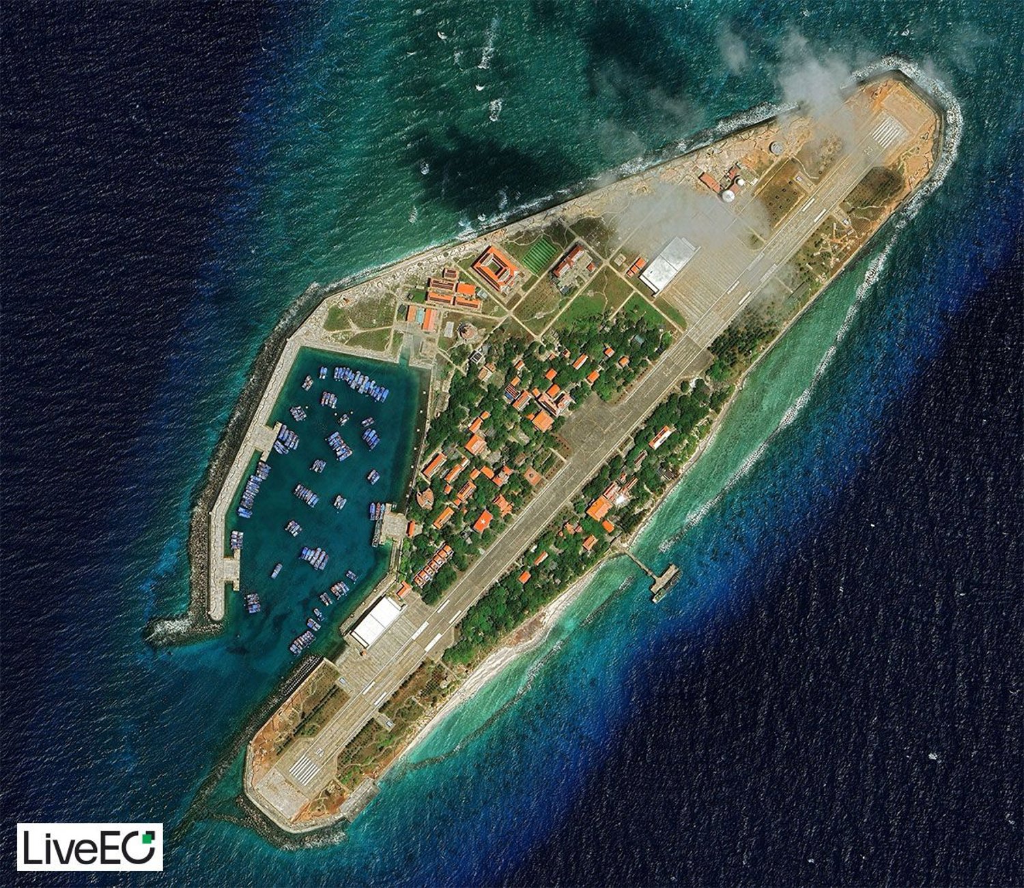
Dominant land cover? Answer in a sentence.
What you mostly see from above here is water.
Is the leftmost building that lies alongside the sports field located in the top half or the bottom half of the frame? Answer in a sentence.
It is in the top half that the leftmost building that lies alongside the sports field appears.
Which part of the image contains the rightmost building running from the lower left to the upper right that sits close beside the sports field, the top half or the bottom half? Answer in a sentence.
The rightmost building running from the lower left to the upper right that sits close beside the sports field is in the top half of the image.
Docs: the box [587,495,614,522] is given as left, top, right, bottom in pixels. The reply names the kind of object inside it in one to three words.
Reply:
building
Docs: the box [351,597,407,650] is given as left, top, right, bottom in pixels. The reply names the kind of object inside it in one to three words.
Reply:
hangar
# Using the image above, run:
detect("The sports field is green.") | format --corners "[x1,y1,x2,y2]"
[521,236,558,275]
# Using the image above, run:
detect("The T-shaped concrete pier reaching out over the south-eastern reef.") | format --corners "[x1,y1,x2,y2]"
[621,544,679,594]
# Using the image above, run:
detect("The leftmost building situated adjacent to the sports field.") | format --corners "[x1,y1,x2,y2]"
[472,245,524,296]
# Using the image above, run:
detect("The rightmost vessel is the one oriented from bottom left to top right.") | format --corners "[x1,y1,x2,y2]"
[652,571,683,605]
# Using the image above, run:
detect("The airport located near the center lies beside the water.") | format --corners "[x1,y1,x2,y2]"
[256,83,936,819]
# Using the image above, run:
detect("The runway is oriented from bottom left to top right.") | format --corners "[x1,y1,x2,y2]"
[283,116,900,793]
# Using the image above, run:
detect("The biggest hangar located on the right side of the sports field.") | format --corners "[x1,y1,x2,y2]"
[640,236,701,297]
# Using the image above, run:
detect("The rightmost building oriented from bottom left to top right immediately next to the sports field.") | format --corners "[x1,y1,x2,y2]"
[553,244,586,278]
